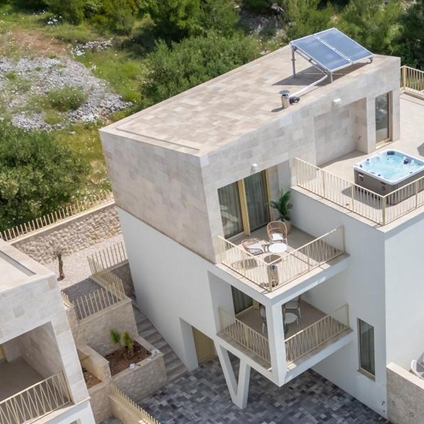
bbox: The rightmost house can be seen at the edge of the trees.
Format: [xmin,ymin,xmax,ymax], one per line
[100,47,424,419]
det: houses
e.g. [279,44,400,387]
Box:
[0,238,97,424]
[100,47,424,419]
